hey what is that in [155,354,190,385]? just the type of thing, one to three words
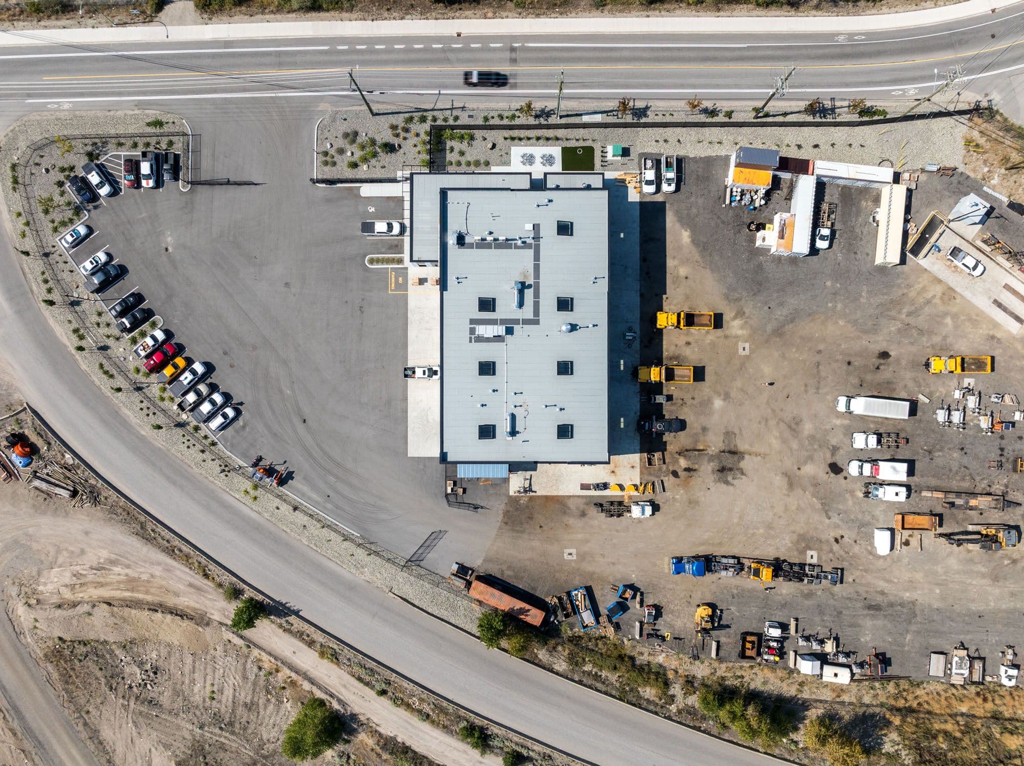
truck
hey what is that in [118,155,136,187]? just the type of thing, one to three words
car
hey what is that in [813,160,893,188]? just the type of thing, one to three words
shipping container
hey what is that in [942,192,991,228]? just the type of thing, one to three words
shed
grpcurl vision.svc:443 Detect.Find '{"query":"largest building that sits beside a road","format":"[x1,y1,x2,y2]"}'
[403,165,611,478]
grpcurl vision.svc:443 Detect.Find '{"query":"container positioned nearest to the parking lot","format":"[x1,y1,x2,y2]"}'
[470,575,547,627]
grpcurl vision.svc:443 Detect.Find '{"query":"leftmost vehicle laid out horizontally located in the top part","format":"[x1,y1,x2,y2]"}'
[361,219,400,235]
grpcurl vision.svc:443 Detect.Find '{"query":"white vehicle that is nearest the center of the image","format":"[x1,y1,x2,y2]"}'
[403,365,440,380]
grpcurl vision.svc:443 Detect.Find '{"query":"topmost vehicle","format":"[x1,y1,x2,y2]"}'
[466,67,507,85]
